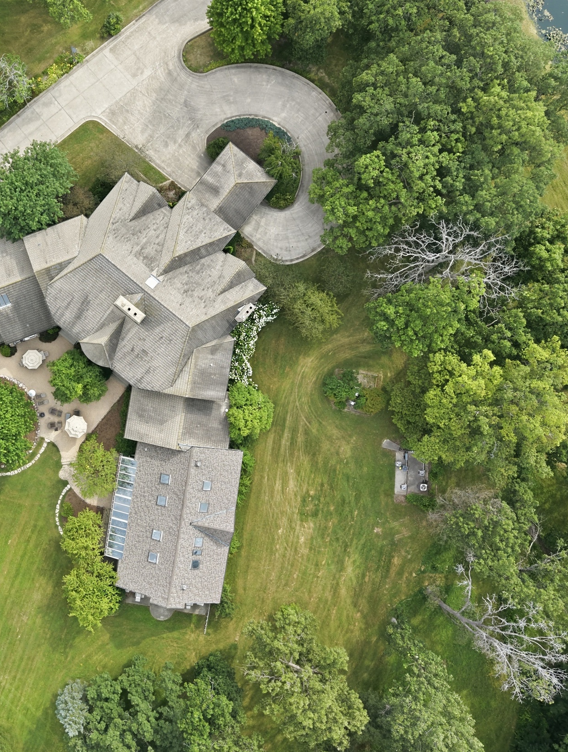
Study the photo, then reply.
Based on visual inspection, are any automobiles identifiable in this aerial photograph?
No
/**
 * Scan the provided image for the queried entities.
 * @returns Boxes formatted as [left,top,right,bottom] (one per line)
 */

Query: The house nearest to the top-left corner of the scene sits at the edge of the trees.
[0,142,277,449]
